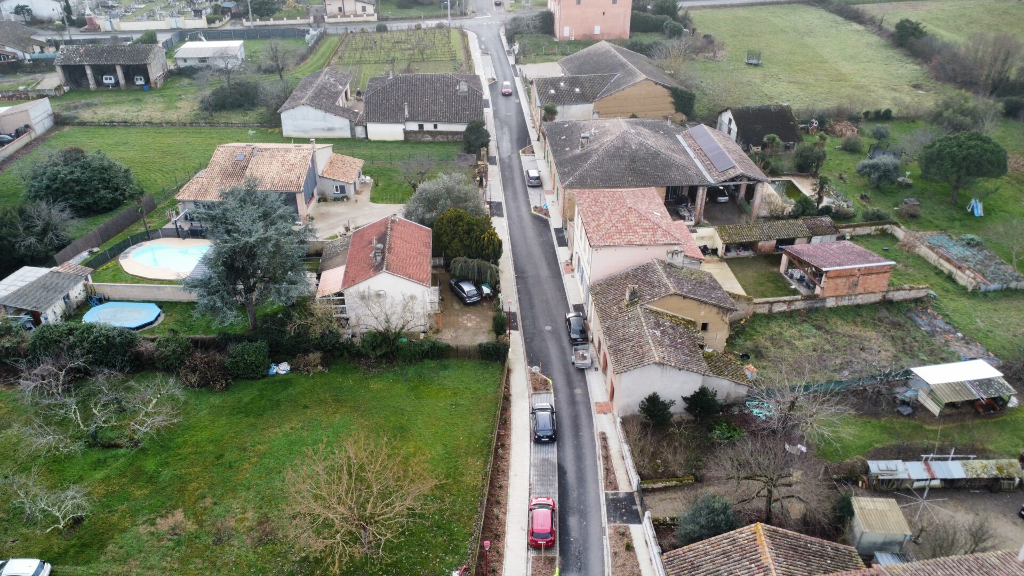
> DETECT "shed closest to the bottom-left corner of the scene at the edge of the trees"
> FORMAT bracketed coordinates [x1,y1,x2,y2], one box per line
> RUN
[0,261,95,325]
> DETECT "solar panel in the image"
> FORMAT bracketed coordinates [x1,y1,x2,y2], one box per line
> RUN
[690,125,735,171]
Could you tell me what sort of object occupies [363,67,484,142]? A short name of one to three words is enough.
house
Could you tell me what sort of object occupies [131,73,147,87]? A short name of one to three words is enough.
vehicle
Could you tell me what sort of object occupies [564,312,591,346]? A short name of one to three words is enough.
car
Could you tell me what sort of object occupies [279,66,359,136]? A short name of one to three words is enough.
shed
